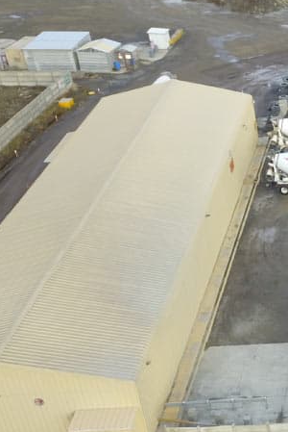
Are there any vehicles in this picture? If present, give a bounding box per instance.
[268,146,288,190]
[268,115,288,150]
